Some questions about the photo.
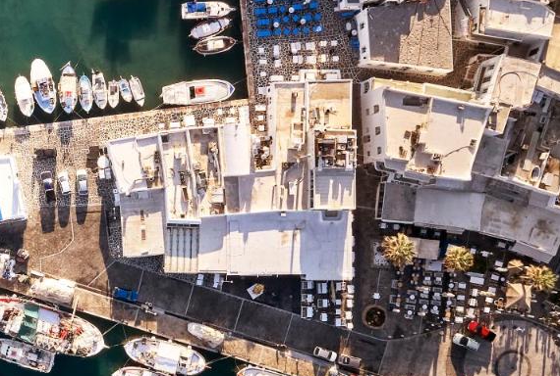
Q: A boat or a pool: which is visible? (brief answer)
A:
boat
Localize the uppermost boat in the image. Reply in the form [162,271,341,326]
[181,0,238,20]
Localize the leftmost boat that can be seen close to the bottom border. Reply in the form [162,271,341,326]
[0,343,54,375]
